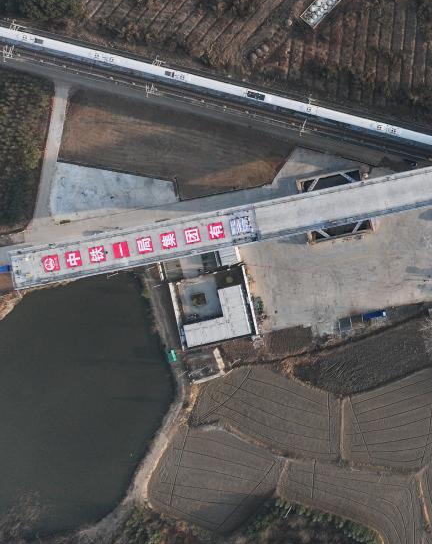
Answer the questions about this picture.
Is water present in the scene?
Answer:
Yes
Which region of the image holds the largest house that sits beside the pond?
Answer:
center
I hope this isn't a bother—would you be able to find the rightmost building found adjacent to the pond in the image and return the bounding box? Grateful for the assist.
[184,284,254,347]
